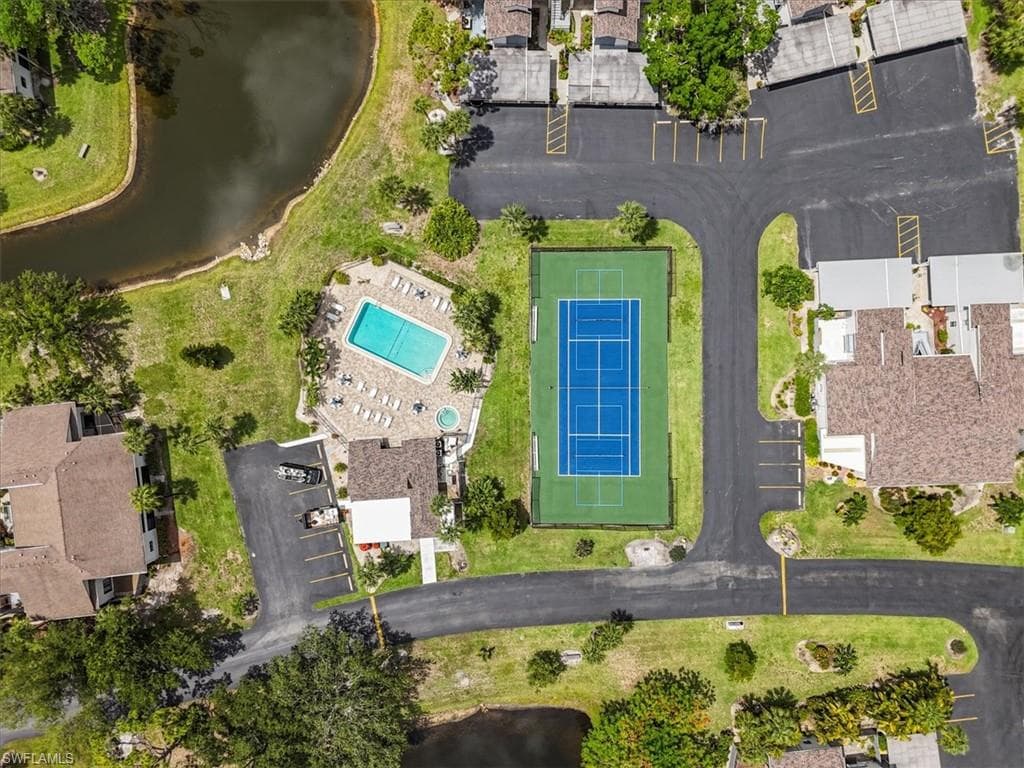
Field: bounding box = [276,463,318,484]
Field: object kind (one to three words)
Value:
car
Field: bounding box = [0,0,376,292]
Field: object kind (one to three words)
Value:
pond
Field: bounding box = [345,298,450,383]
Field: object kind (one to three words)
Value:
swimming pool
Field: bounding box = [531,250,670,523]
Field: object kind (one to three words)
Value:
tennis court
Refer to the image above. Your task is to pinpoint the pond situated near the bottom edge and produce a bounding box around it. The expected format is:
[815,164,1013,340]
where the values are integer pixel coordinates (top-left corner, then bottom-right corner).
[403,706,589,768]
